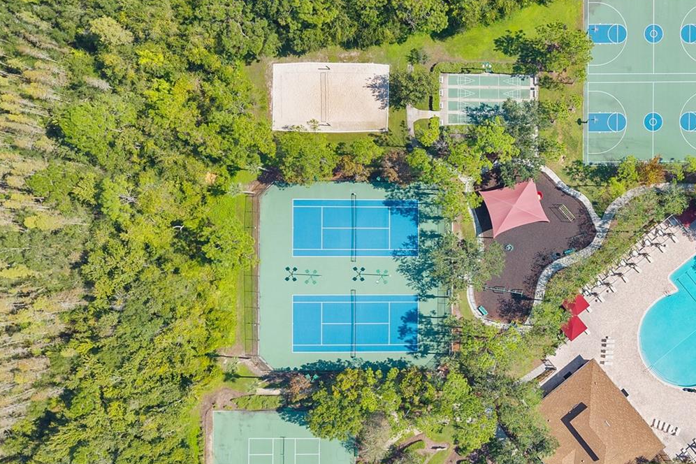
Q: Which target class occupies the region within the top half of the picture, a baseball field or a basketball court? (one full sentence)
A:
What appears within the top half of the picture is a basketball court.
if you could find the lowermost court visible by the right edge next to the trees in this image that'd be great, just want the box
[585,78,696,164]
